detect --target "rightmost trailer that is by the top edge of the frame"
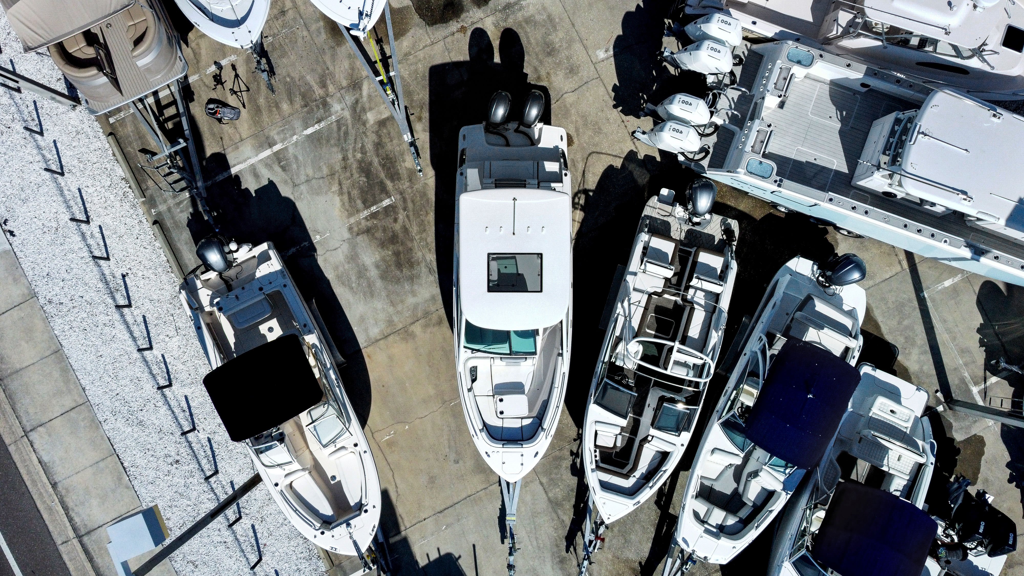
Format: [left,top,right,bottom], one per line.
[338,0,426,177]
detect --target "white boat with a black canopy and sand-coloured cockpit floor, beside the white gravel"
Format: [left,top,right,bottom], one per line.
[180,228,384,572]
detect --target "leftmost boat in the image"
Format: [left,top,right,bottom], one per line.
[5,0,191,118]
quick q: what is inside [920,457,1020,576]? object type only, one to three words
boat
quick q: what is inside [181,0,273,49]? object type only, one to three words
boat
